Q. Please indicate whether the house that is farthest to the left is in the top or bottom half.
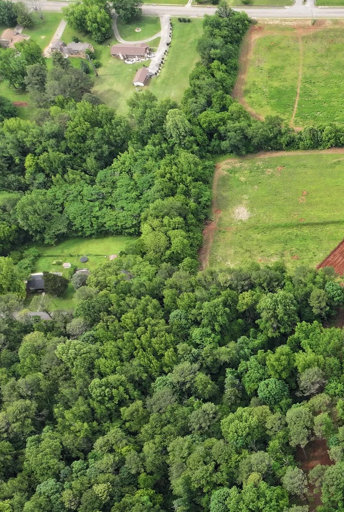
top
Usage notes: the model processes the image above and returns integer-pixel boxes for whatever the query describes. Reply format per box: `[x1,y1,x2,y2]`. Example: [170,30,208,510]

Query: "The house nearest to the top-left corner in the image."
[0,29,32,51]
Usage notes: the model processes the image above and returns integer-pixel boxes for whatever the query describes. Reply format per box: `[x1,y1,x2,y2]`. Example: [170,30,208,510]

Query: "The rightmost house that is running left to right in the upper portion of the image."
[110,43,150,59]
